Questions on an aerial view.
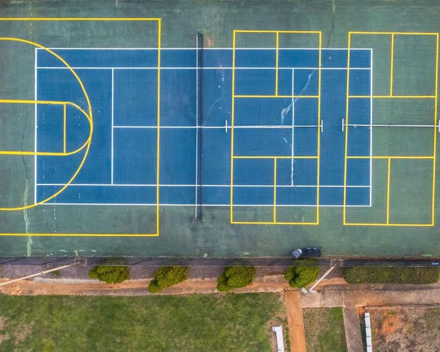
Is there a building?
No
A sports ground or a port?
sports ground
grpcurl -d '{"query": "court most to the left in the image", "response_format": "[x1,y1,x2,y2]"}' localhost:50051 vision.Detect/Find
[0,18,160,237]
